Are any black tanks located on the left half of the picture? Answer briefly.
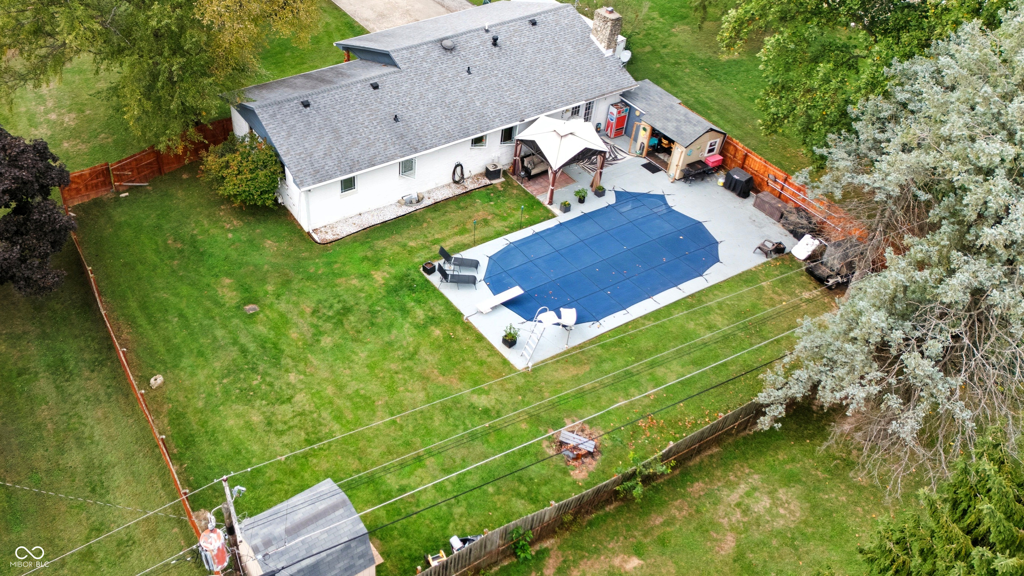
No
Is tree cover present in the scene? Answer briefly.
Yes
